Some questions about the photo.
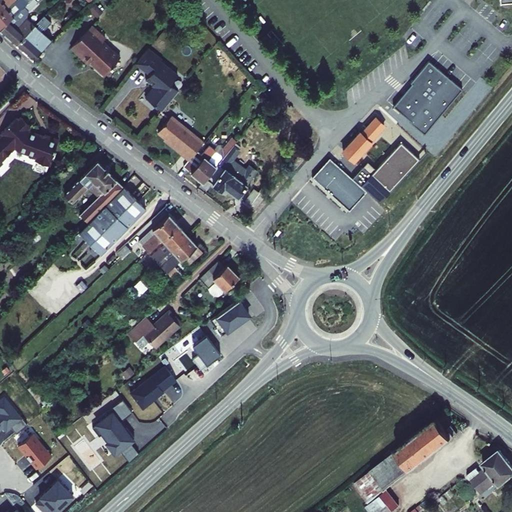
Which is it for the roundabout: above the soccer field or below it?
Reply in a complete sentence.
In the image, the roundabout sits below the soccer field.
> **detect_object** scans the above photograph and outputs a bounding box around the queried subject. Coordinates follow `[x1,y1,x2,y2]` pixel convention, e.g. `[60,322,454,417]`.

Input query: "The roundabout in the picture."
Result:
[290,266,380,356]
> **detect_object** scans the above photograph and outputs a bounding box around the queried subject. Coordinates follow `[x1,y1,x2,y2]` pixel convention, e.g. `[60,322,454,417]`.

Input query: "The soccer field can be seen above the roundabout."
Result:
[256,0,407,74]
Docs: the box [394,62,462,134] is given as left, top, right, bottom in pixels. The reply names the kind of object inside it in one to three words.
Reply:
building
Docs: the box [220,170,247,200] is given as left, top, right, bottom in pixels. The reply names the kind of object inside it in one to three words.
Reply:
house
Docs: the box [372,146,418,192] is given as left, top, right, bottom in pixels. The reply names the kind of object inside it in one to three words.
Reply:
building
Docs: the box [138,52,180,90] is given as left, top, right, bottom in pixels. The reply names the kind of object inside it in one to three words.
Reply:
house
